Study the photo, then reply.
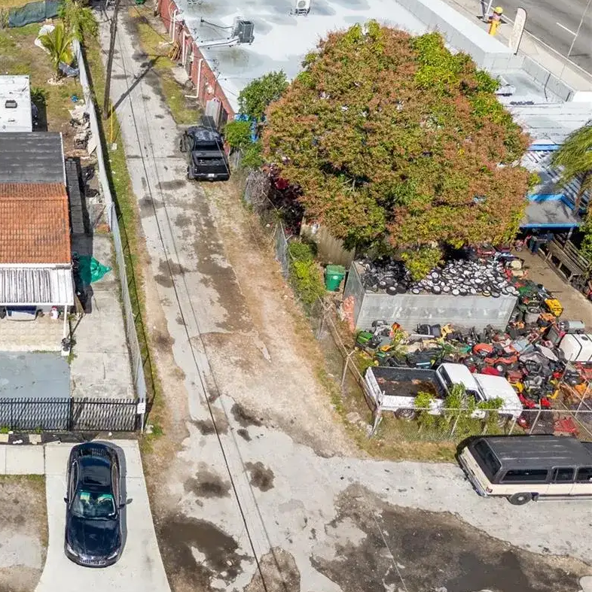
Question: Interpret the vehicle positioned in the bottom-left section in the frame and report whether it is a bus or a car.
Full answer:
From above, the vehicle positioned in the bottom-left section can be identified as a car.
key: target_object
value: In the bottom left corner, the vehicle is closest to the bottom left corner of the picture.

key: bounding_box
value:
[64,451,129,568]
